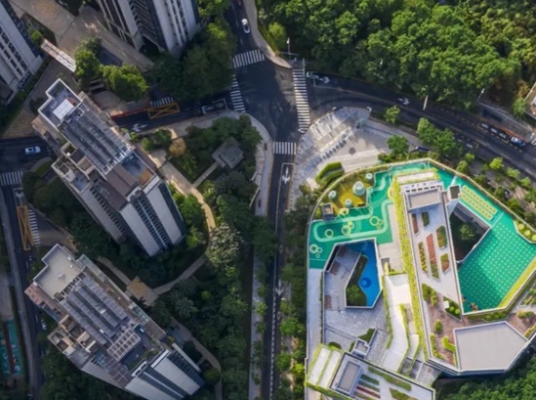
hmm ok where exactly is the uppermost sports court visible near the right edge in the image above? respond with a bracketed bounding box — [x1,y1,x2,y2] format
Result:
[396,161,516,226]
